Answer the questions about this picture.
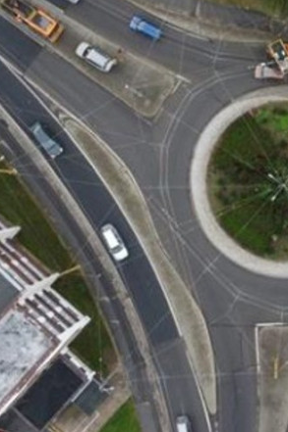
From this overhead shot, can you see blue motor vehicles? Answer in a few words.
Yes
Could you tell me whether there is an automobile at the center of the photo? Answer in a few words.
Yes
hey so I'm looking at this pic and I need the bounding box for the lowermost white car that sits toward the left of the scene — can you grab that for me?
[102,225,127,260]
